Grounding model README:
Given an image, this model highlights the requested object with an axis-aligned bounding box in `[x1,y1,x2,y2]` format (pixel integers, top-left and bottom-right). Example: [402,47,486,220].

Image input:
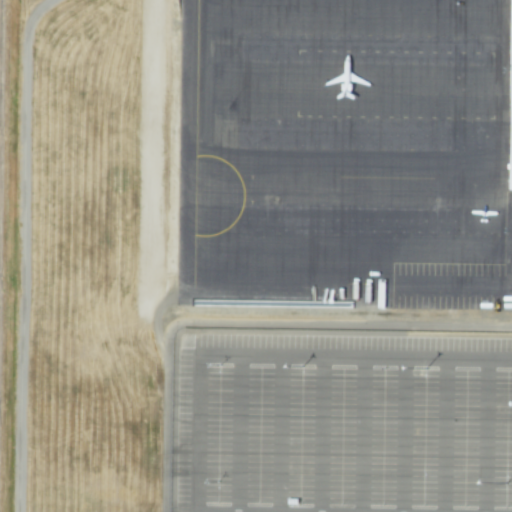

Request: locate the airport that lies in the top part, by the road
[179,0,512,310]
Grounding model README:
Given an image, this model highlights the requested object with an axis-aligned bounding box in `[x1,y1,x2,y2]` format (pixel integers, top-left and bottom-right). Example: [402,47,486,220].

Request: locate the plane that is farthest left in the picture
[324,56,371,101]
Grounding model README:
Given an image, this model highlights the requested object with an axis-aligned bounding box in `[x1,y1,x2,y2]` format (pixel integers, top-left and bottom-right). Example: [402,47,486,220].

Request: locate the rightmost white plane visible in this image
[472,205,499,224]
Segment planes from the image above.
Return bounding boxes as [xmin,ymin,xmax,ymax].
[472,205,499,224]
[324,56,371,101]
